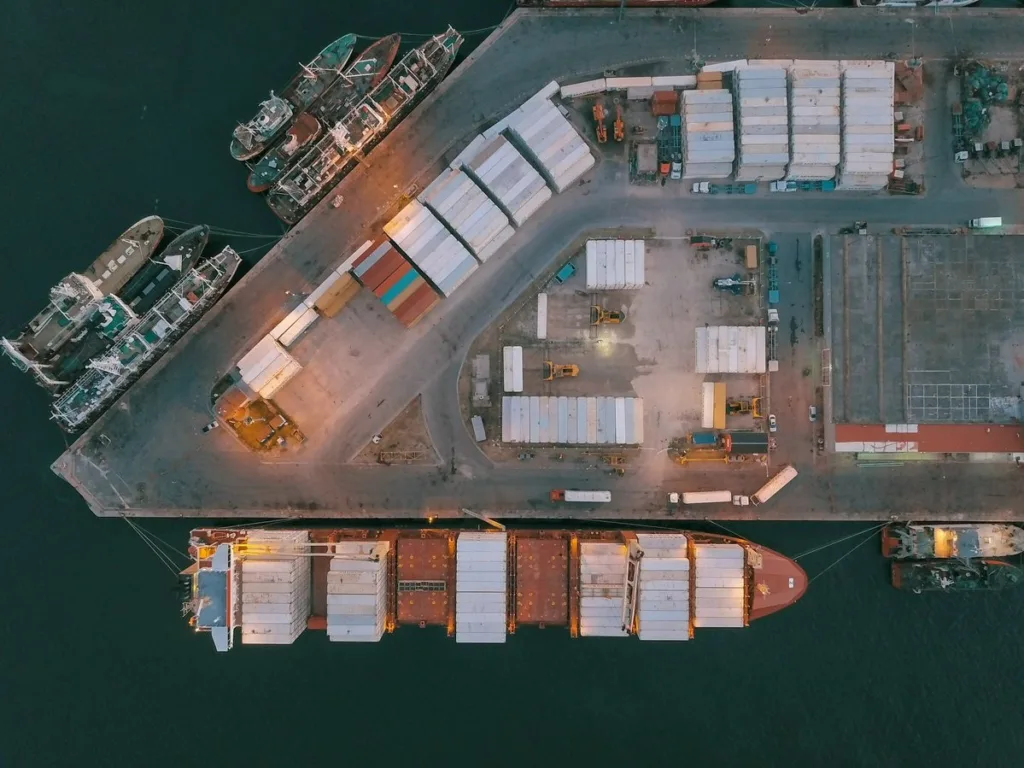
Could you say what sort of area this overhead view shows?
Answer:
port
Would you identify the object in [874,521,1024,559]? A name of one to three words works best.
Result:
boat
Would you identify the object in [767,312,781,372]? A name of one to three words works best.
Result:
vehicle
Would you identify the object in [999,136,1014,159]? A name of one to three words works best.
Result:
vehicle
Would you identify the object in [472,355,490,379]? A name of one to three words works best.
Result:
house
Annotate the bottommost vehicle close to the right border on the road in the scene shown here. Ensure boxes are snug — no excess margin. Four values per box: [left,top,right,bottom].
[967,215,1006,228]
